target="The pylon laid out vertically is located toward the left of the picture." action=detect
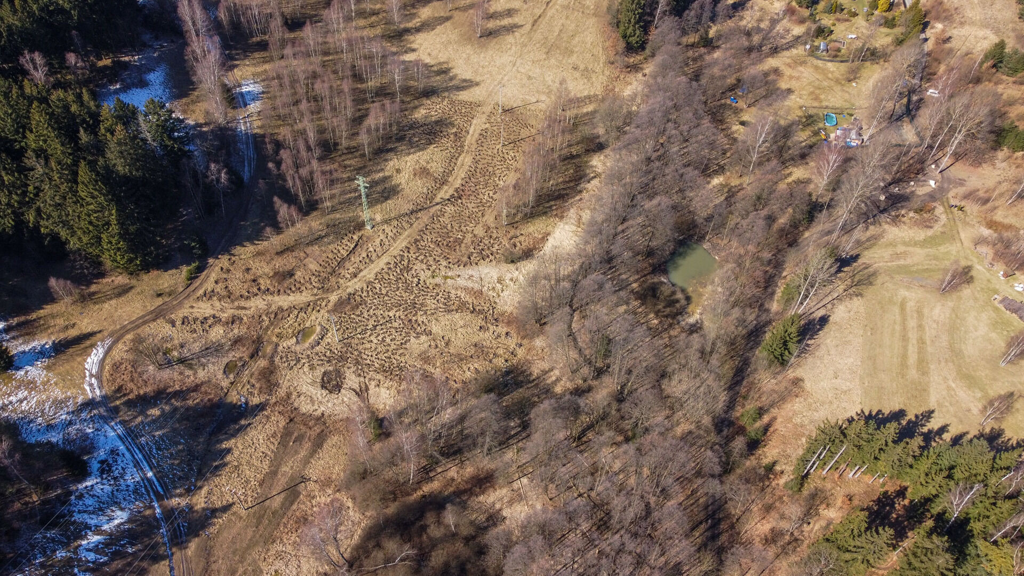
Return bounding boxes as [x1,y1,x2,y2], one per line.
[355,177,374,232]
